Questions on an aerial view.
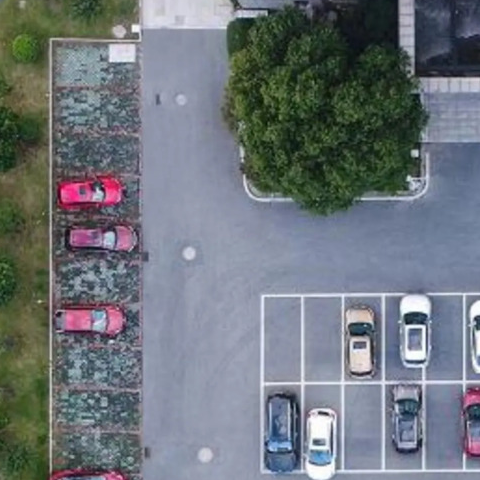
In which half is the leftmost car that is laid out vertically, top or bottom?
bottom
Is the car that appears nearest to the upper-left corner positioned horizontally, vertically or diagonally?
horizontally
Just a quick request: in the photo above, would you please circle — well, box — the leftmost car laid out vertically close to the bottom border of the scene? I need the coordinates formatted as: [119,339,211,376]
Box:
[263,392,301,472]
